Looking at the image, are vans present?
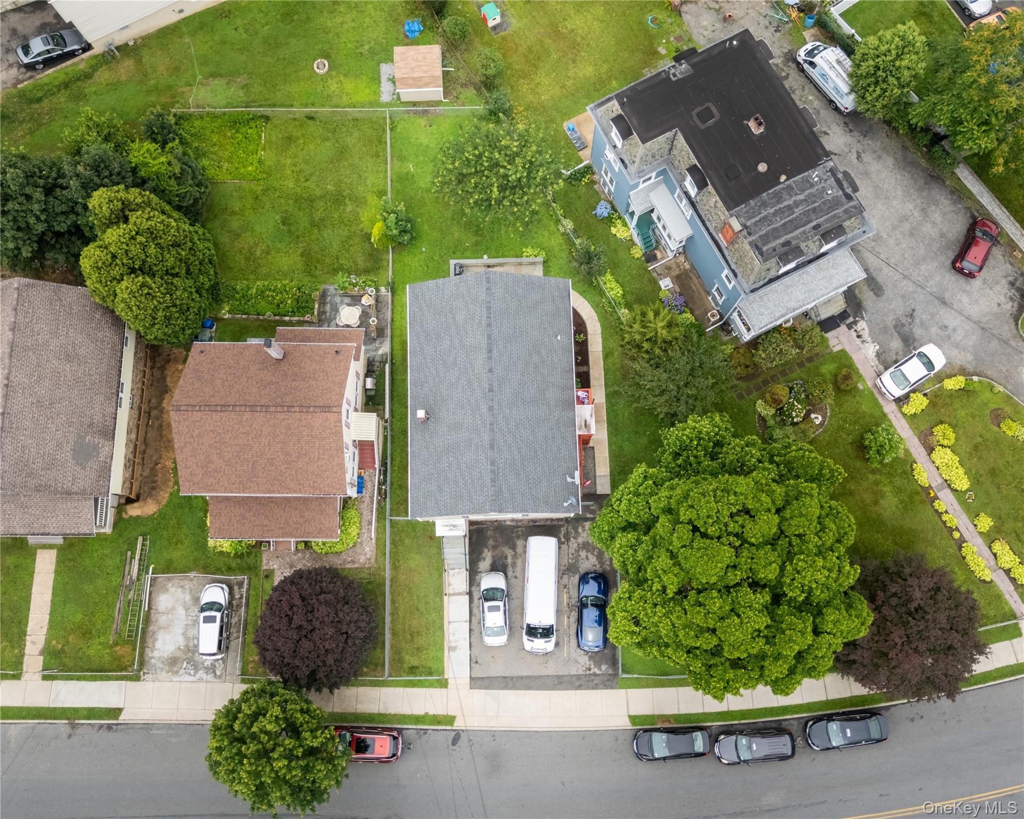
Yes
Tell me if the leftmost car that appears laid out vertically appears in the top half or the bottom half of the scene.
bottom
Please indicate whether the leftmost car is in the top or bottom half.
top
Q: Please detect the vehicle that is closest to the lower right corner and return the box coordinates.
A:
[804,711,890,752]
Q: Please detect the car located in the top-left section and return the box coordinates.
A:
[16,27,88,72]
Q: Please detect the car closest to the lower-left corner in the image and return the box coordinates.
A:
[196,583,235,660]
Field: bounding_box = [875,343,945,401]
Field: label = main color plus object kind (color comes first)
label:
white car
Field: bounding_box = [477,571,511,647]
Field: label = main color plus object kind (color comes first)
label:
white car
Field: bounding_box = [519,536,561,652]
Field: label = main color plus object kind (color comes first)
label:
white van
